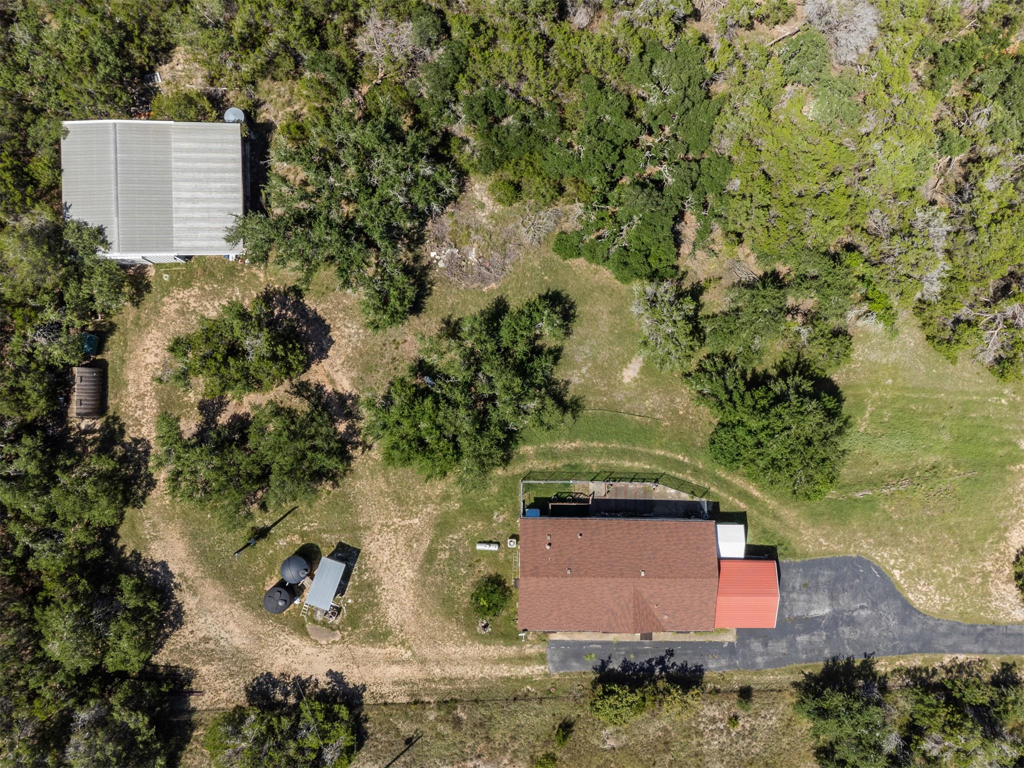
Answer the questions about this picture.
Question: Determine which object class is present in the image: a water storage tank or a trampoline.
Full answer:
Of the two, only a water storage tank appears.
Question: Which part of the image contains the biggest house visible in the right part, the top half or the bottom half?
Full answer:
The biggest house visible in the right part sits in the bottom half of the picture.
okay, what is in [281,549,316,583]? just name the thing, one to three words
water tank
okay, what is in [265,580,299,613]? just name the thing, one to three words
water tank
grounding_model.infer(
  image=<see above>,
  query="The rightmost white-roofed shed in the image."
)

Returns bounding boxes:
[717,521,745,558]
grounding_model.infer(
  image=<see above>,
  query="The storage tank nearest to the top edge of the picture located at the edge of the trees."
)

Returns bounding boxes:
[224,105,253,134]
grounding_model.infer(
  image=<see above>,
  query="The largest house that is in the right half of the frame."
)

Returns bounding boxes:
[518,517,719,634]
